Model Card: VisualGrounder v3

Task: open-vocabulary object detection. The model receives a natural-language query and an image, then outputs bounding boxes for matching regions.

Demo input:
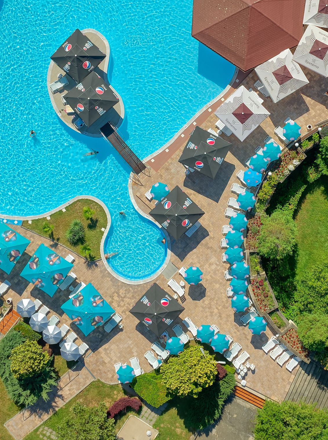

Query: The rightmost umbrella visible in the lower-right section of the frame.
[248,317,267,335]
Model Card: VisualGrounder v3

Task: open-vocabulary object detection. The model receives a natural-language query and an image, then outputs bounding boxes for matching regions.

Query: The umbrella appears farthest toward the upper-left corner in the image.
[50,28,106,83]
